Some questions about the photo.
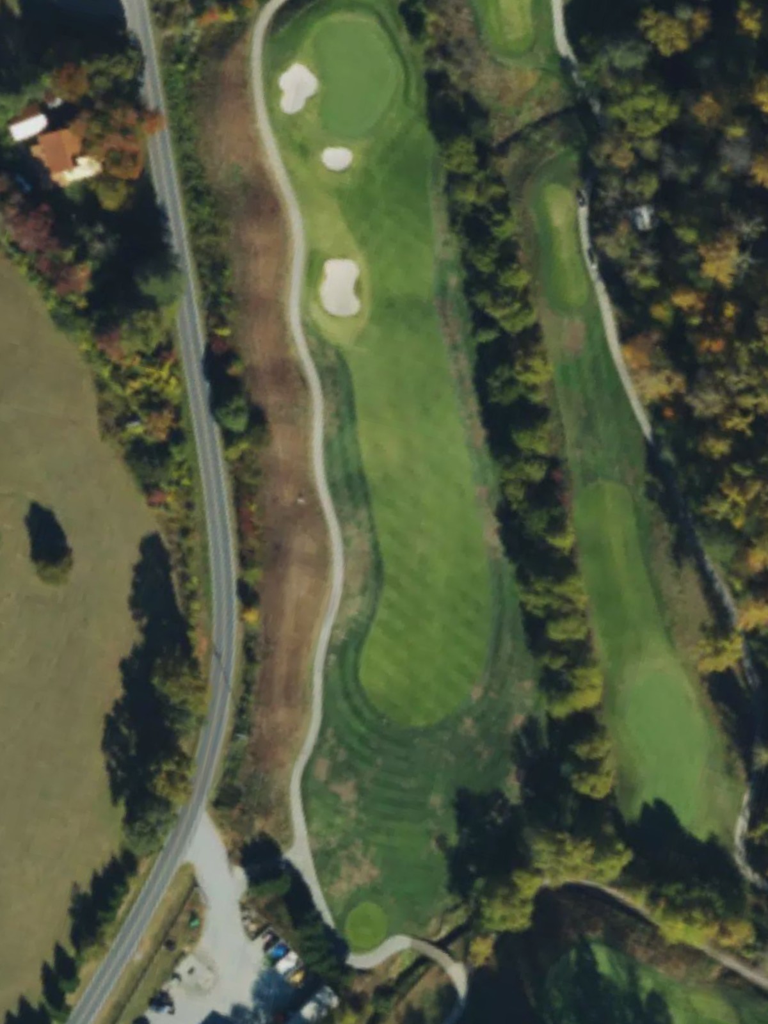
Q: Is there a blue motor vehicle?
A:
Yes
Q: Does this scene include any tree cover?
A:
Yes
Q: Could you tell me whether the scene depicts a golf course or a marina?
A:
golf course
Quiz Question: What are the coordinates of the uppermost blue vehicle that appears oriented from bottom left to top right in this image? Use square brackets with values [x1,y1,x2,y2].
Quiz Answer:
[268,941,287,958]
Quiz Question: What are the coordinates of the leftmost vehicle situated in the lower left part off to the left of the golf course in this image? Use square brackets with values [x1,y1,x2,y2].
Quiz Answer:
[148,993,173,1009]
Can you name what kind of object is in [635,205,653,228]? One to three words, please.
shed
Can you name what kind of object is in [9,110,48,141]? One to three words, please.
house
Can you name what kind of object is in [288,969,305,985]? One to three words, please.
car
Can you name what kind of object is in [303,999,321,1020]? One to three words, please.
vehicle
